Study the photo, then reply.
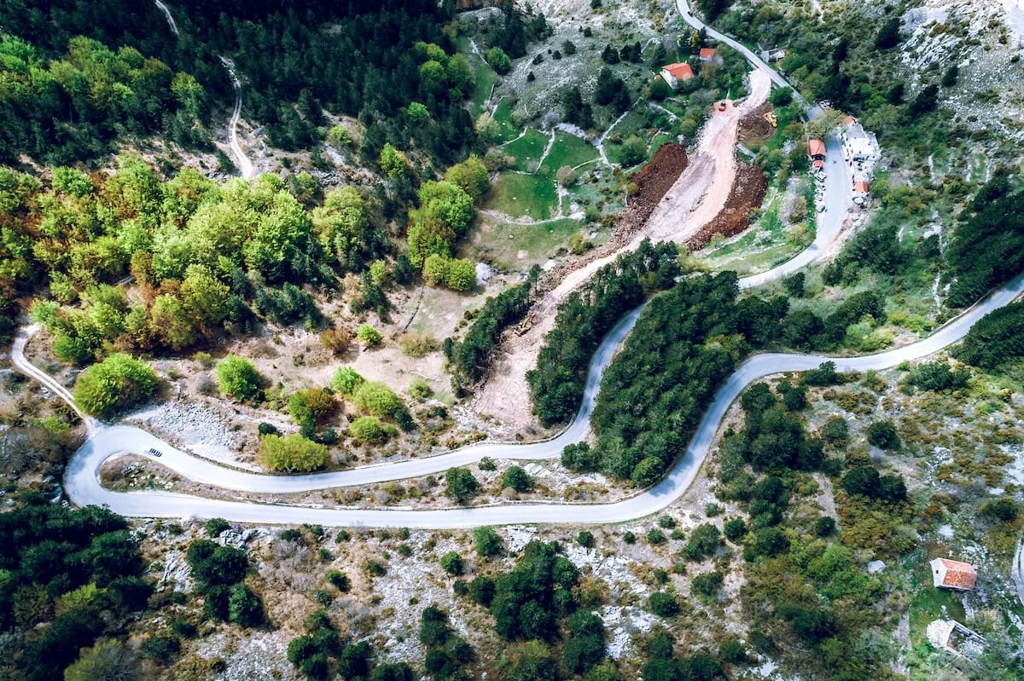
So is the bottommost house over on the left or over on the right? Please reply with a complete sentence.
It is on the right.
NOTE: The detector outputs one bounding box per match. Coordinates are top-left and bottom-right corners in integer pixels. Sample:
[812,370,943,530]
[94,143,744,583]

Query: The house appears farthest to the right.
[930,557,976,595]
